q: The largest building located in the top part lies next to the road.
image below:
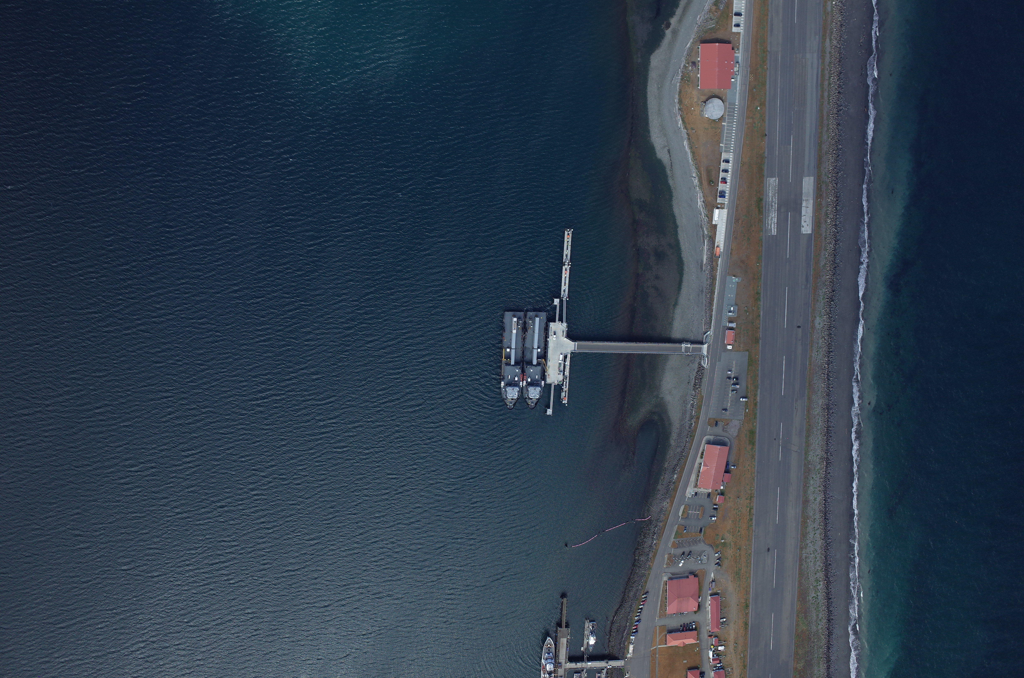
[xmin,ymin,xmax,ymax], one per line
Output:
[697,43,734,89]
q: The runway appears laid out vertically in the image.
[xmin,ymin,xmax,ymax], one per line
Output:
[745,0,824,678]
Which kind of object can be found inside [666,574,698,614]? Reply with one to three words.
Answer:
building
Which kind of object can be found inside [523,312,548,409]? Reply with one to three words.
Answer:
ship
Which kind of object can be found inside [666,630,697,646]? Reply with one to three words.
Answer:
building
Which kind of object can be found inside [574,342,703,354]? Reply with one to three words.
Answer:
bridge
